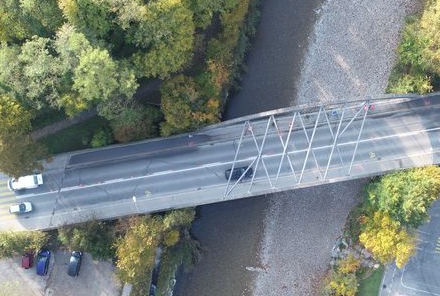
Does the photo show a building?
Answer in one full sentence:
No, the photo shows no building.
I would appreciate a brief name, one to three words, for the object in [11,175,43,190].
vehicle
